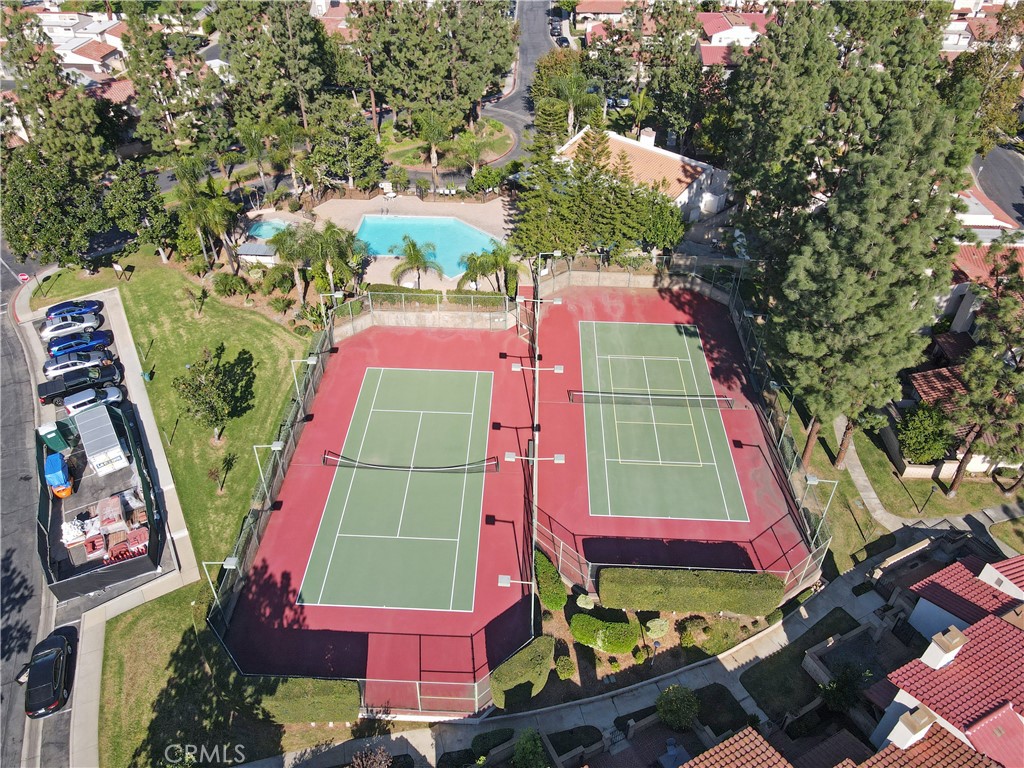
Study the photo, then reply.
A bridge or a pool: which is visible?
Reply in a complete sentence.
This aerial view contains a pool.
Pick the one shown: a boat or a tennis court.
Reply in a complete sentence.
It is a tennis court that can be seen here.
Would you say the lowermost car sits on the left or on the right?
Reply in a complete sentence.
The lowermost car sits on the left side.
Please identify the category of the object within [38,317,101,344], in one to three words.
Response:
car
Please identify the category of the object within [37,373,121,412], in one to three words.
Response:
vehicle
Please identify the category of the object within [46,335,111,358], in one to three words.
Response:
car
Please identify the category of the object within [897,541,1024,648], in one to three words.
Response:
house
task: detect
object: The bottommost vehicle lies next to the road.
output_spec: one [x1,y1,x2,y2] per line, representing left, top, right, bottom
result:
[18,639,81,723]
